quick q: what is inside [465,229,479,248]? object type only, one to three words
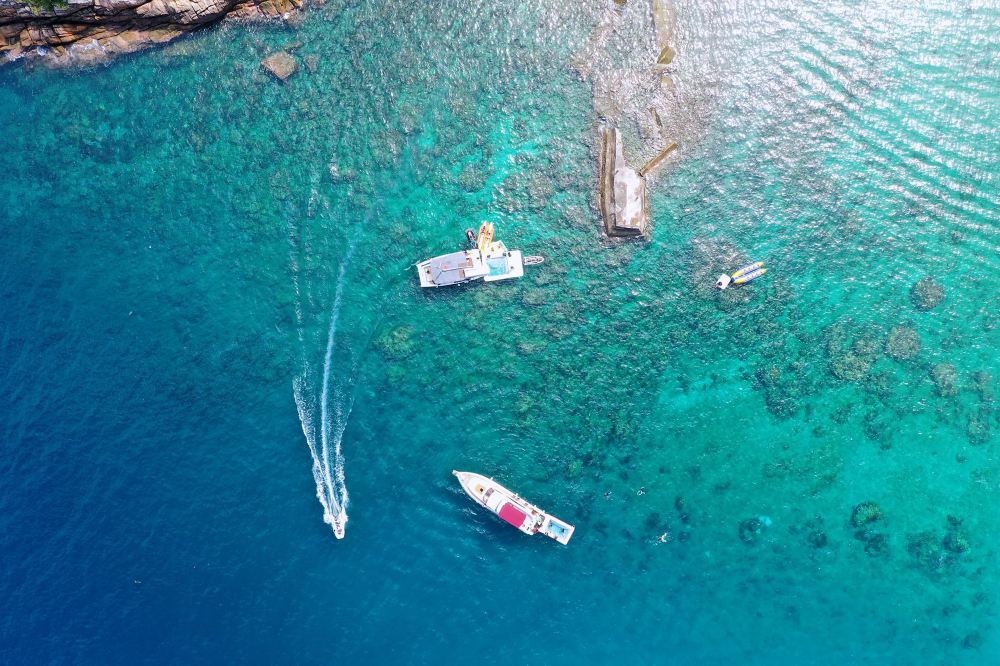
boat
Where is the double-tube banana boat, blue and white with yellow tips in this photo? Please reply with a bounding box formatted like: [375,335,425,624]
[732,264,769,282]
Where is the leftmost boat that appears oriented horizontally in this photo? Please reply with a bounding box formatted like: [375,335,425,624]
[404,248,485,290]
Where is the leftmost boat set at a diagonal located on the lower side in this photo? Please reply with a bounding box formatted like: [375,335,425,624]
[450,472,546,535]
